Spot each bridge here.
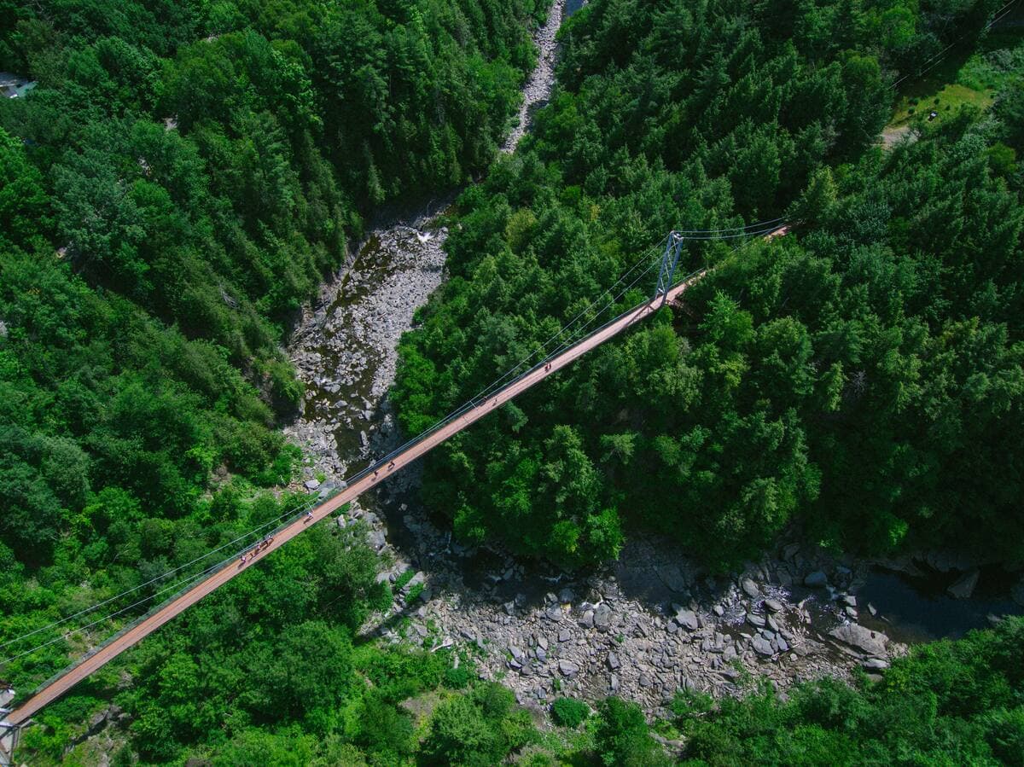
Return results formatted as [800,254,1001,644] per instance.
[0,213,799,735]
